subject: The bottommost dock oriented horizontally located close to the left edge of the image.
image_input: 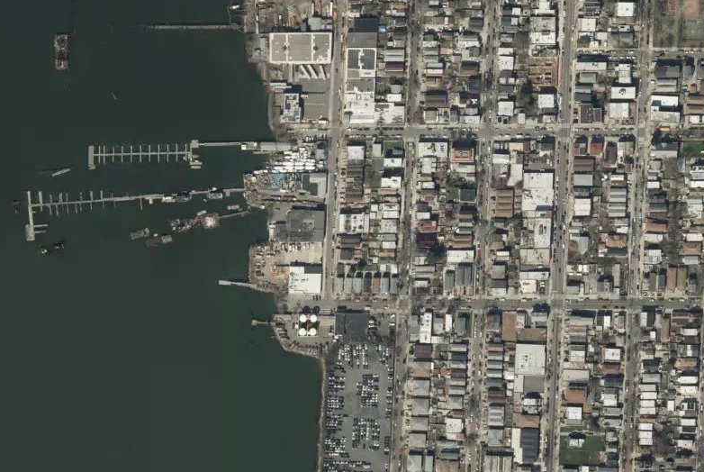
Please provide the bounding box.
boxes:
[26,188,247,241]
